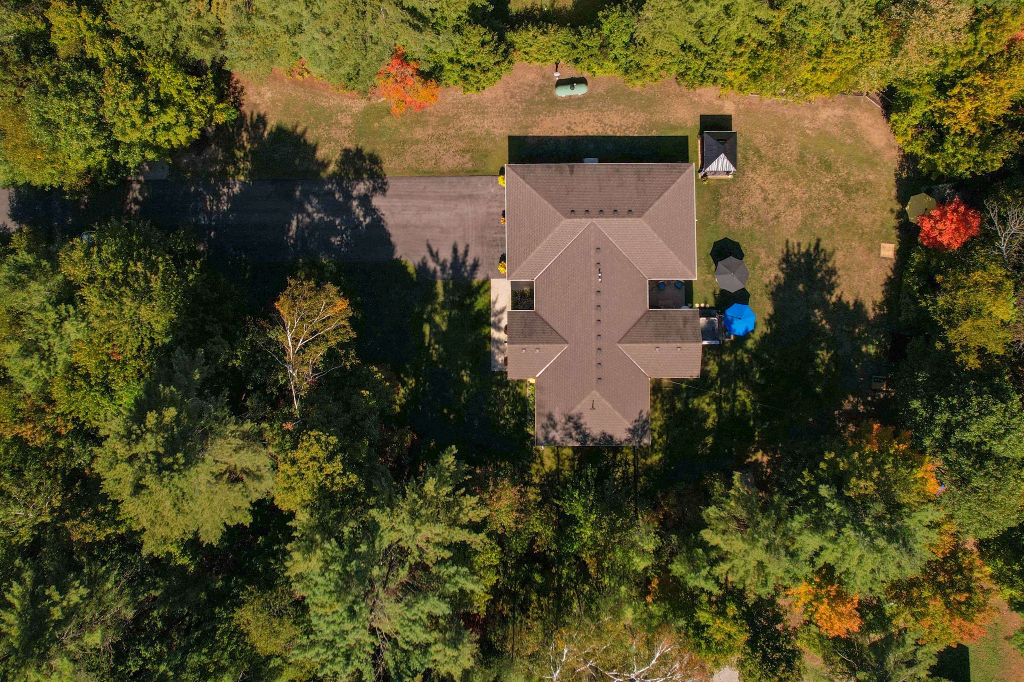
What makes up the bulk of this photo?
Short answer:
trees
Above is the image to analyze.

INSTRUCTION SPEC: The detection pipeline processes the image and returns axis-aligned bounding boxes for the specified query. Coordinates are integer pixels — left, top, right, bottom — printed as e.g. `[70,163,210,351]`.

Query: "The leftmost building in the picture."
[503,161,704,452]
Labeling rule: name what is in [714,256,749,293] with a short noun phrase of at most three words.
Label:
umbrella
